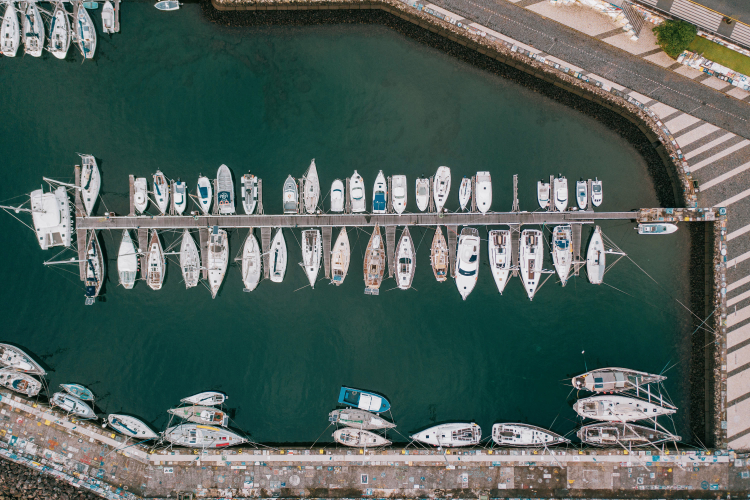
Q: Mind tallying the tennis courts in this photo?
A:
0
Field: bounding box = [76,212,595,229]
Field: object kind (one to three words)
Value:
pier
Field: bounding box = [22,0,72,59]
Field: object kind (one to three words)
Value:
boat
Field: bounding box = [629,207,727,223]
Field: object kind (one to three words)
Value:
pier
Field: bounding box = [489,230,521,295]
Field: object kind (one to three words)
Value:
boat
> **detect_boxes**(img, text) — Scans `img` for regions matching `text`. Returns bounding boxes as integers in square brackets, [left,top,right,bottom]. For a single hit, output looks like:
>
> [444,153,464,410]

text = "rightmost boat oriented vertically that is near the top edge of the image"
[101,1,116,36]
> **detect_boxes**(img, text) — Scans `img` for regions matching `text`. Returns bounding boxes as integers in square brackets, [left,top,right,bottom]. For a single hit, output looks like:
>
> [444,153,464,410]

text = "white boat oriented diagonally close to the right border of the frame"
[587,223,715,332]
